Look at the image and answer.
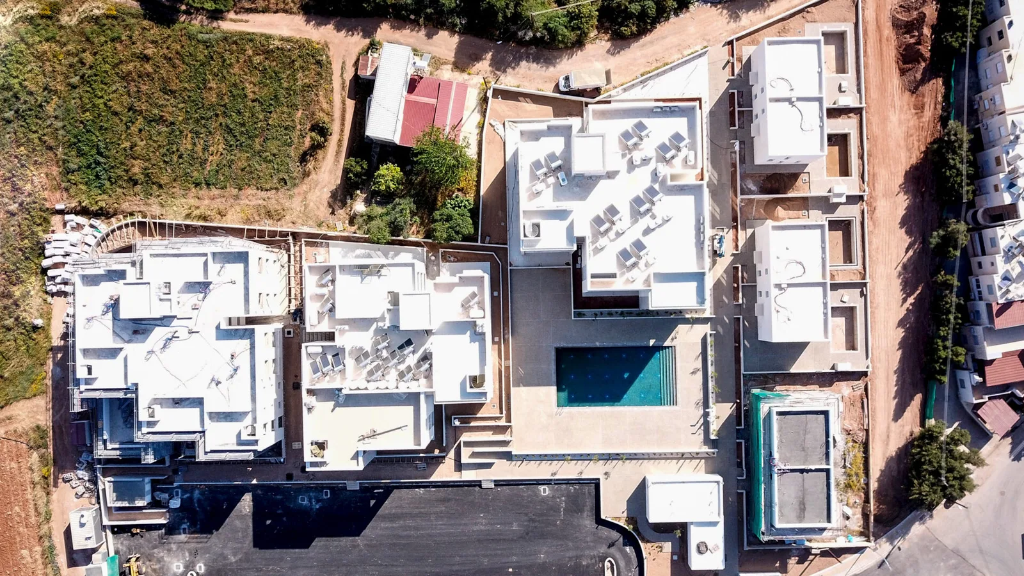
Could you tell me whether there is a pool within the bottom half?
Yes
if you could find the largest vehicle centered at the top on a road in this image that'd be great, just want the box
[557,71,606,94]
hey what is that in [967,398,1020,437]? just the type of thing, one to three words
house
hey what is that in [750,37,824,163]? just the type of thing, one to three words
house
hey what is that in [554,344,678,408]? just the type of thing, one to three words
swimming pool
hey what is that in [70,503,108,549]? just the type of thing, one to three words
building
